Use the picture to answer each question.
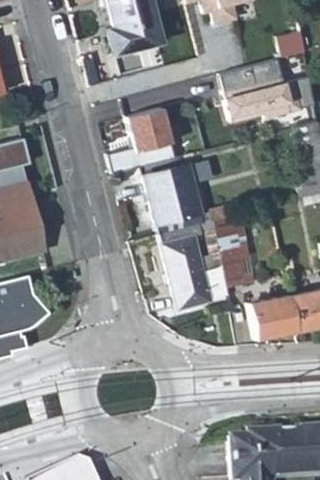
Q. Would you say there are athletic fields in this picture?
No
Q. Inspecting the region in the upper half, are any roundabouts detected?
No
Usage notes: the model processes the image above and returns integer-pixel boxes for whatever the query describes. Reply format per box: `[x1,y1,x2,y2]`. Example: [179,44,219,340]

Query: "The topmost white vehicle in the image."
[52,14,69,40]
